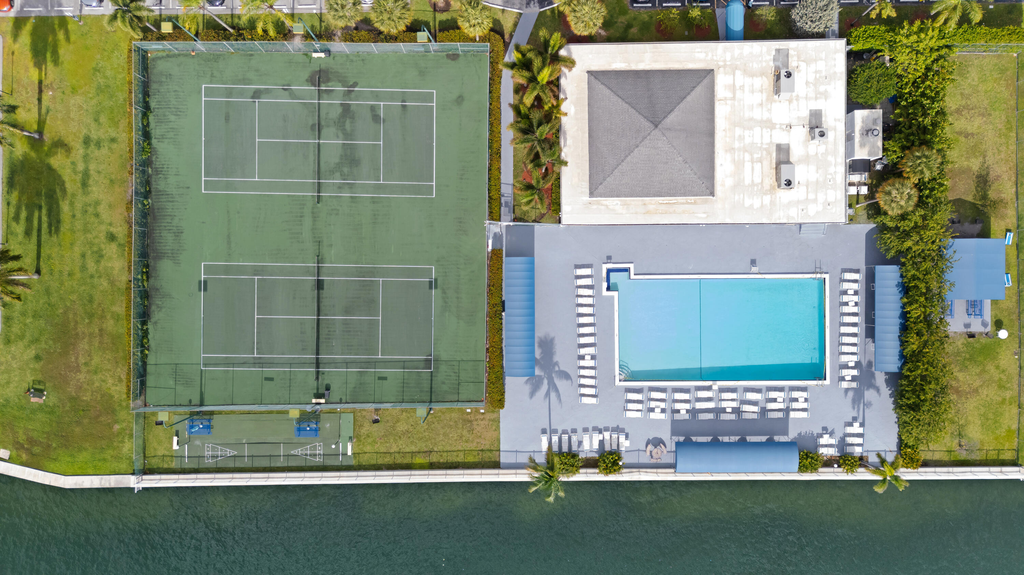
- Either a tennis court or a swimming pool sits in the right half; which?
swimming pool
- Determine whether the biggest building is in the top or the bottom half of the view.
top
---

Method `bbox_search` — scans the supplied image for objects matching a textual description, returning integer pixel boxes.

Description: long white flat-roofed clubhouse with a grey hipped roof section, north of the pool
[560,38,847,225]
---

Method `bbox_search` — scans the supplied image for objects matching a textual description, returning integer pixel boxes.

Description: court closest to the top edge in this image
[203,85,435,197]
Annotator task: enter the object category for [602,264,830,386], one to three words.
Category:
swimming pool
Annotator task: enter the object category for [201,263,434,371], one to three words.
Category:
tennis court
